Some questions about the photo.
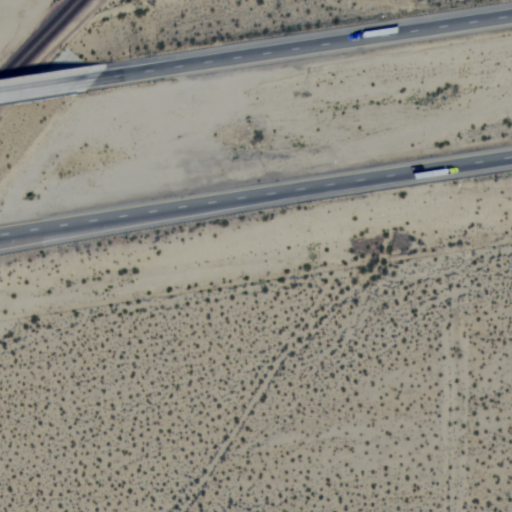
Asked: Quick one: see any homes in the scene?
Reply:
No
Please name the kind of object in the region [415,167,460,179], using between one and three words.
vehicle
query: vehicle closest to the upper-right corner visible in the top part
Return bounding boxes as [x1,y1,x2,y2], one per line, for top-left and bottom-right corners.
[352,27,398,40]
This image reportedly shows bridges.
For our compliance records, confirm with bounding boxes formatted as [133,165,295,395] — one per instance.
[0,49,108,107]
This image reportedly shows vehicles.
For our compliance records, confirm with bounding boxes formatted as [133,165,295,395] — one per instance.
[352,27,398,40]
[415,167,460,179]
[412,166,424,172]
